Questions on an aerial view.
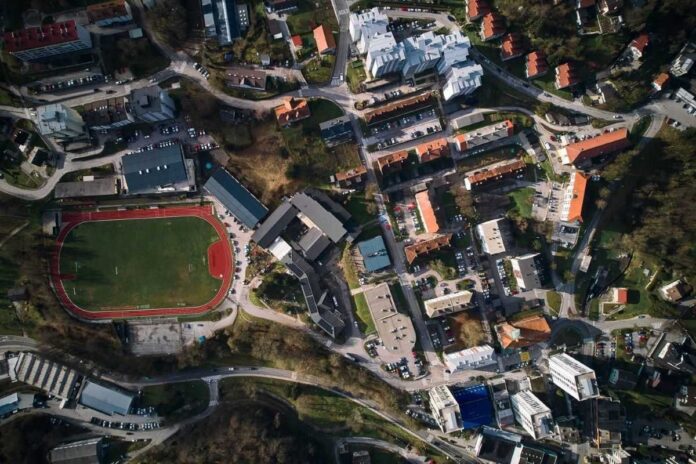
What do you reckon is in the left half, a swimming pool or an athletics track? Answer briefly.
athletics track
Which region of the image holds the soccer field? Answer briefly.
left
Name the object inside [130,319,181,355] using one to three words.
sports court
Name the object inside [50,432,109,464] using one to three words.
barn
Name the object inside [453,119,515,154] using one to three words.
building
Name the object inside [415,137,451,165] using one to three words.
house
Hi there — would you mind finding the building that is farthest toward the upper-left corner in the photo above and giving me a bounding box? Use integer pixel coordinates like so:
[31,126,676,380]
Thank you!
[5,19,92,61]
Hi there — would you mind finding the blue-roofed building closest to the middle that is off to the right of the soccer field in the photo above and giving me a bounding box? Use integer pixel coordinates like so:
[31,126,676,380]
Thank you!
[358,236,391,272]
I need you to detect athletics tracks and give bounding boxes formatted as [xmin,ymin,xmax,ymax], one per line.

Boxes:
[50,205,233,319]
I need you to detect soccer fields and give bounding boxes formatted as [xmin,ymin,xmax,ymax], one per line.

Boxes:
[58,216,222,311]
